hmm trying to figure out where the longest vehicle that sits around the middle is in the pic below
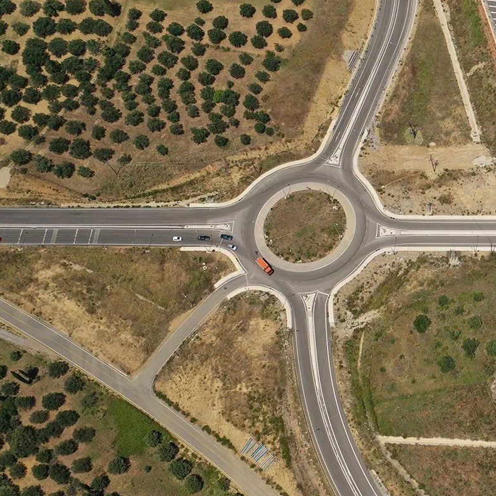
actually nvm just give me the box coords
[255,256,274,275]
